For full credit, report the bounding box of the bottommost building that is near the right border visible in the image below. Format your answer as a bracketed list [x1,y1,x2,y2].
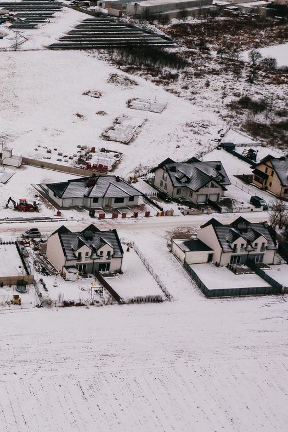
[194,214,281,271]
